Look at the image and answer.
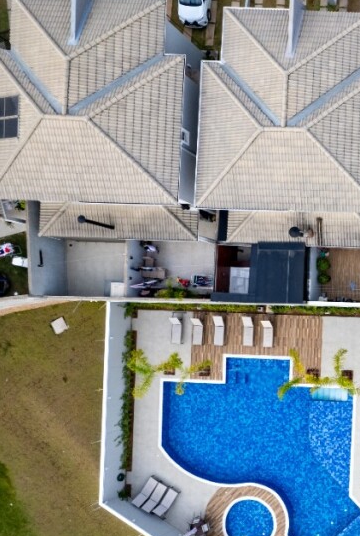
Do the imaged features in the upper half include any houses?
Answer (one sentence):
Yes, there is a house in the upper half.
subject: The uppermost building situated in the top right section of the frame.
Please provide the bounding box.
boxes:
[193,0,360,251]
